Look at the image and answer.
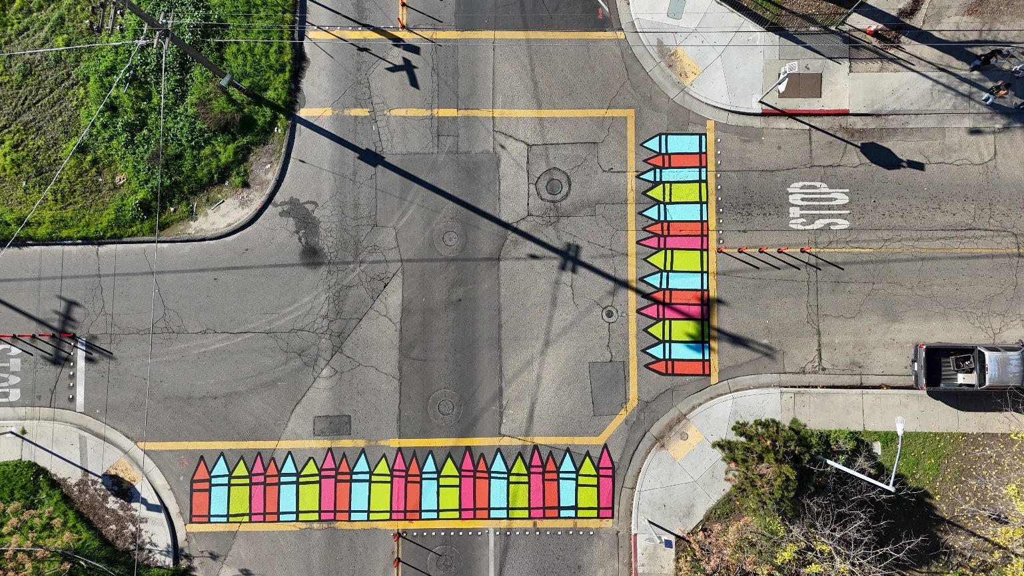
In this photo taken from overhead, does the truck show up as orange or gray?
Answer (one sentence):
The color of the truck is gray.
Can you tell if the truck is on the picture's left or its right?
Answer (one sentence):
It is on the right.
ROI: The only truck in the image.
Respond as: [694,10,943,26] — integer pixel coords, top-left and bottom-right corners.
[905,338,1024,398]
